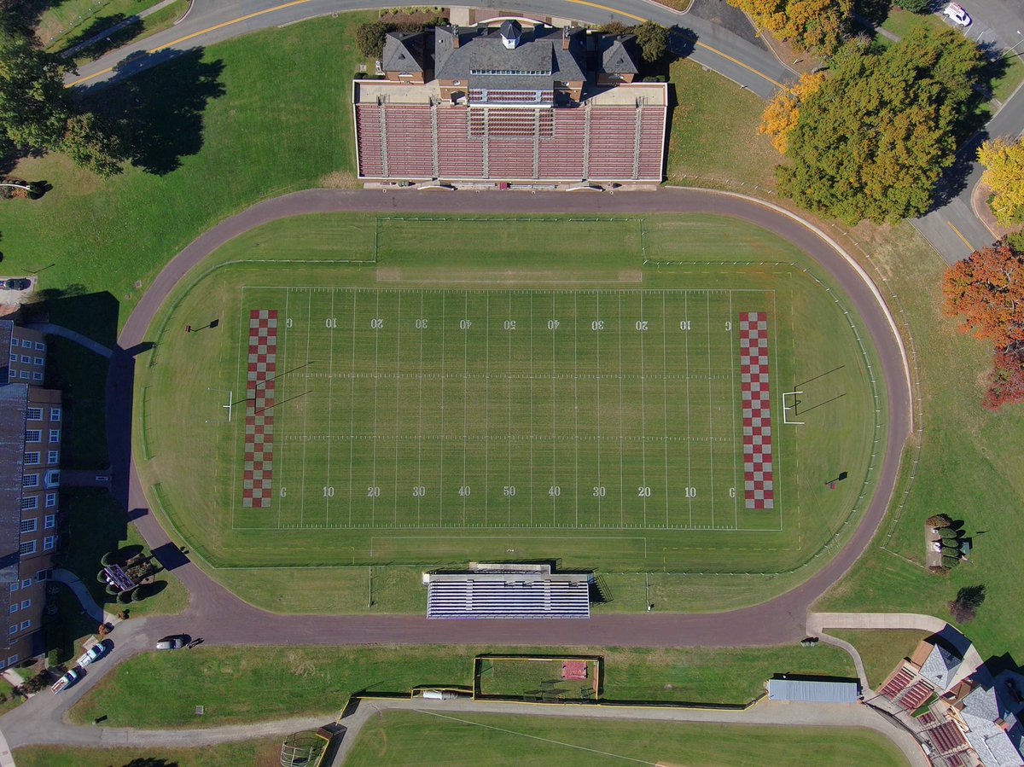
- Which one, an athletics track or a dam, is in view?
athletics track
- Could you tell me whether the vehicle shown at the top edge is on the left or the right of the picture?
right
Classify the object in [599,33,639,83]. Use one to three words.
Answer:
building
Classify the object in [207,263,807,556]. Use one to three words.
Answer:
sports field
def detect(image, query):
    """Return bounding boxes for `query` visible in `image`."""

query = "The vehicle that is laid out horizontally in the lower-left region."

[155,638,181,650]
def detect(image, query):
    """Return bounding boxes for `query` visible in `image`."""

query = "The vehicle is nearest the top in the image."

[944,0,972,23]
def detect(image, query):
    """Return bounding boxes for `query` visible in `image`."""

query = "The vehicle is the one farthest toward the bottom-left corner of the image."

[46,669,79,699]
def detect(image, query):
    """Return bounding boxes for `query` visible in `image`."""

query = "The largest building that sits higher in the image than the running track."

[435,17,587,109]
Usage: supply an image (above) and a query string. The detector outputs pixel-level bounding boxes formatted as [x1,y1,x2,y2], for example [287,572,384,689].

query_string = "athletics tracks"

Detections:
[105,188,910,648]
